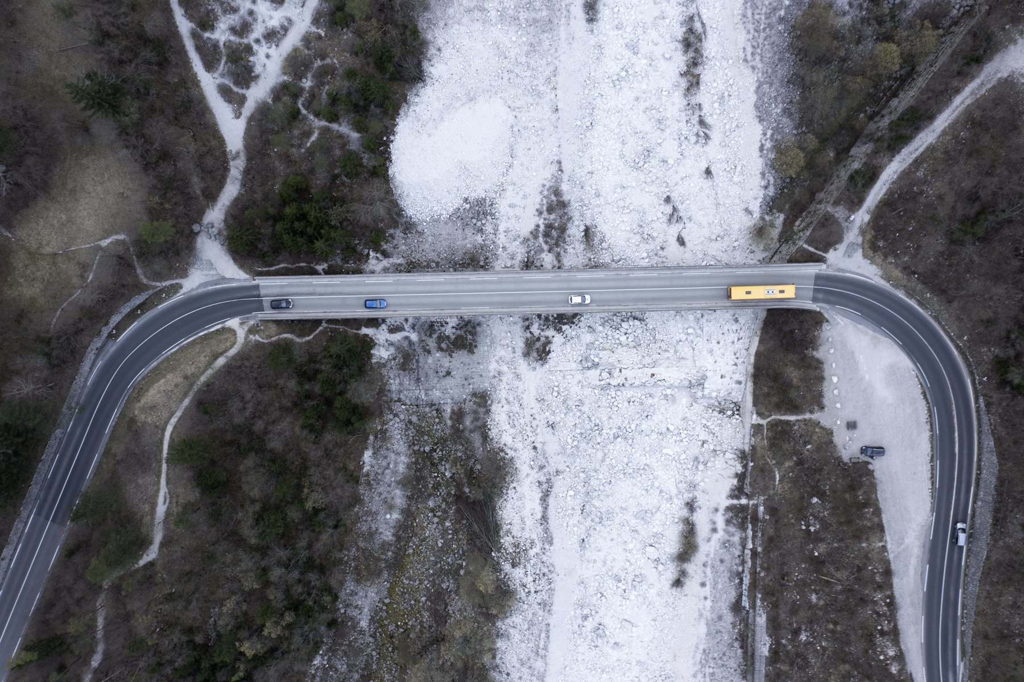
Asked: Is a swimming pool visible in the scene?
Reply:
No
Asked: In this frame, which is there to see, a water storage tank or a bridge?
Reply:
bridge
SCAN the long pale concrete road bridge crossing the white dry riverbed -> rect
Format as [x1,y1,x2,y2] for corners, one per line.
[255,263,822,319]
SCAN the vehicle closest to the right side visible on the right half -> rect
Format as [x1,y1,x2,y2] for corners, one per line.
[950,522,966,547]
